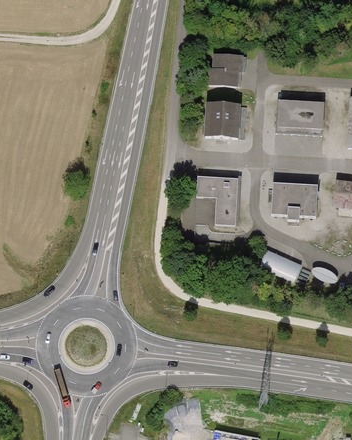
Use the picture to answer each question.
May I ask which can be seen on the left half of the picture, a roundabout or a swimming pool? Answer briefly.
roundabout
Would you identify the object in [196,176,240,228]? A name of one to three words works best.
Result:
house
